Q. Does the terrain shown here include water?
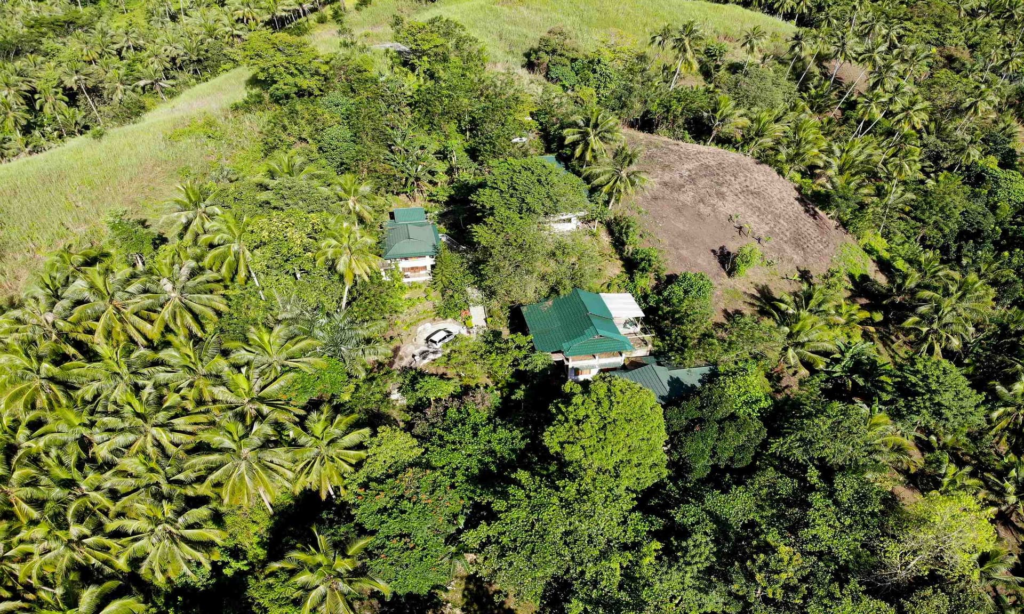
No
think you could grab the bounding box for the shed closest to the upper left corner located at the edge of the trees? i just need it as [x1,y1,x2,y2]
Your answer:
[377,45,411,58]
